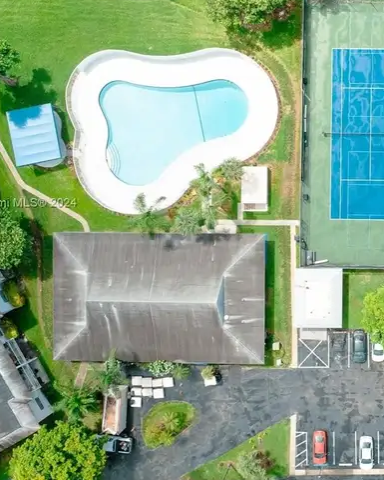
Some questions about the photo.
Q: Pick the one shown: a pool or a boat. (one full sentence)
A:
This aerial view contains a pool.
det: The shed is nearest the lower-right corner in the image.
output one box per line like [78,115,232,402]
[293,267,343,328]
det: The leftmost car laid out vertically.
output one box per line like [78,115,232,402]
[312,429,328,465]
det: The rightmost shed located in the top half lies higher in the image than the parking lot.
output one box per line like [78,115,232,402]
[240,167,269,211]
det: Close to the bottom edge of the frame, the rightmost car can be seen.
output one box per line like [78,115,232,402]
[358,434,375,469]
